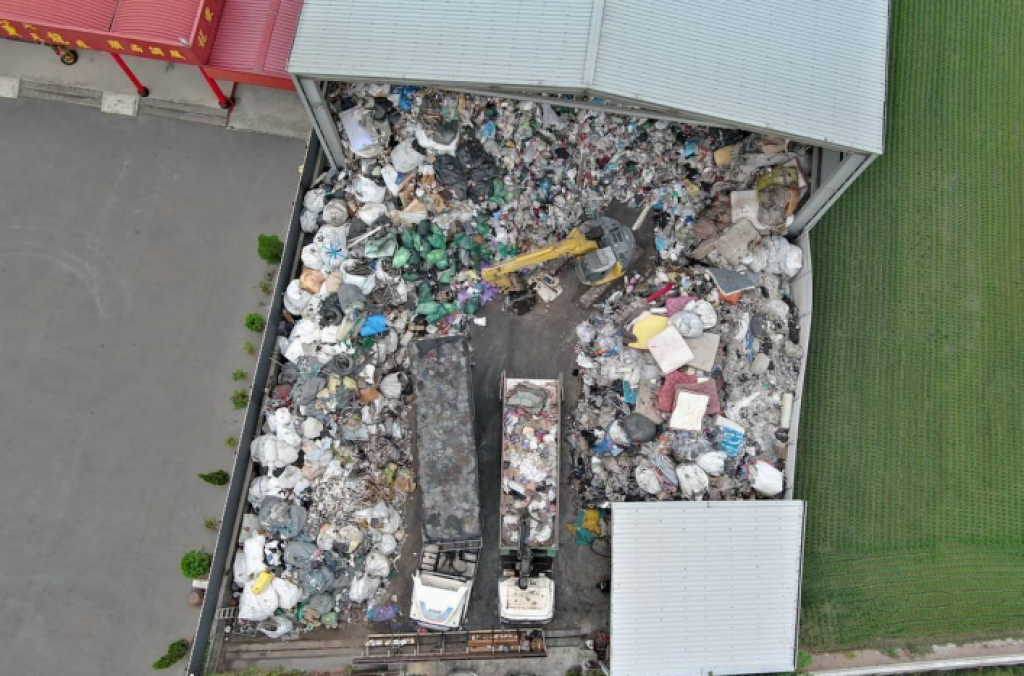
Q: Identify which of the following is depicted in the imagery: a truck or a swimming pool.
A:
truck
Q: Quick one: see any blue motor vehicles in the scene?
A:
No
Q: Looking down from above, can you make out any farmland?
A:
Yes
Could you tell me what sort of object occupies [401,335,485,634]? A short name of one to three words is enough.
truck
